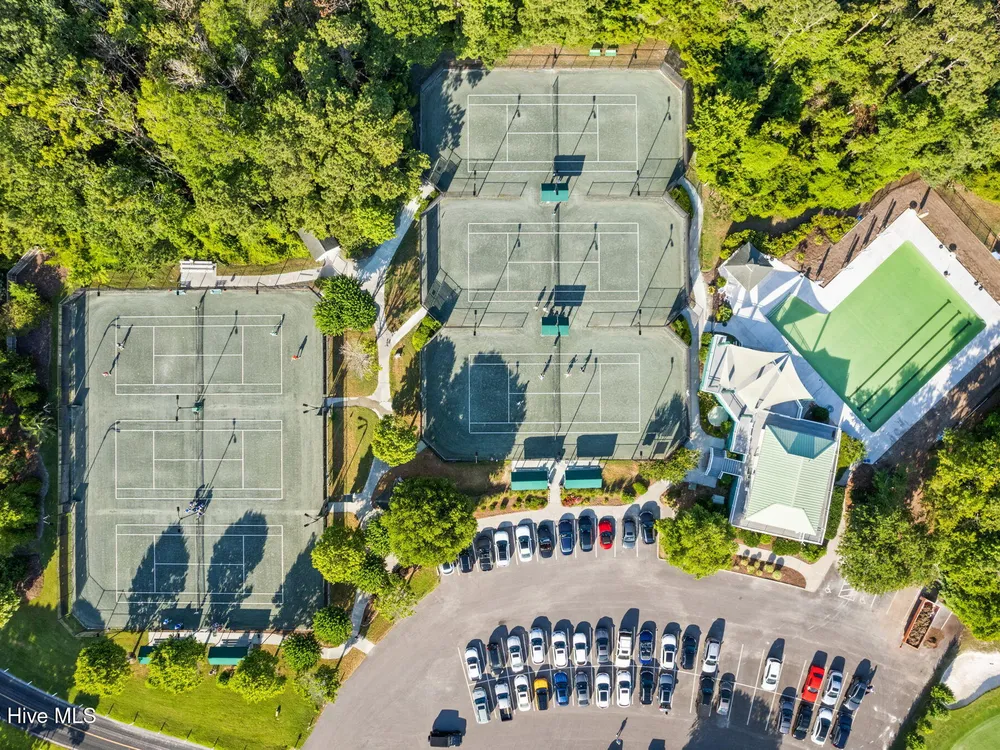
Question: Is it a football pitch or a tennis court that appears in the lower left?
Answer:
tennis court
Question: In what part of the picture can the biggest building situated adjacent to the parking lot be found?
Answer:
right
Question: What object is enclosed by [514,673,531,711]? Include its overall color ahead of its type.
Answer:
white car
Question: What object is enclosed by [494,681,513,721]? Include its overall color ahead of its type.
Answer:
white vehicle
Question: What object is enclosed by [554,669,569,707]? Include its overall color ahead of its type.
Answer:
blue car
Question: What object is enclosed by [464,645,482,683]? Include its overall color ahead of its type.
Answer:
white car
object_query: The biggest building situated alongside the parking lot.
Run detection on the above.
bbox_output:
[695,335,840,544]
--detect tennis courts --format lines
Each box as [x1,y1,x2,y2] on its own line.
[74,407,326,512]
[422,196,689,326]
[74,289,326,407]
[74,512,326,630]
[422,327,690,460]
[422,68,685,196]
